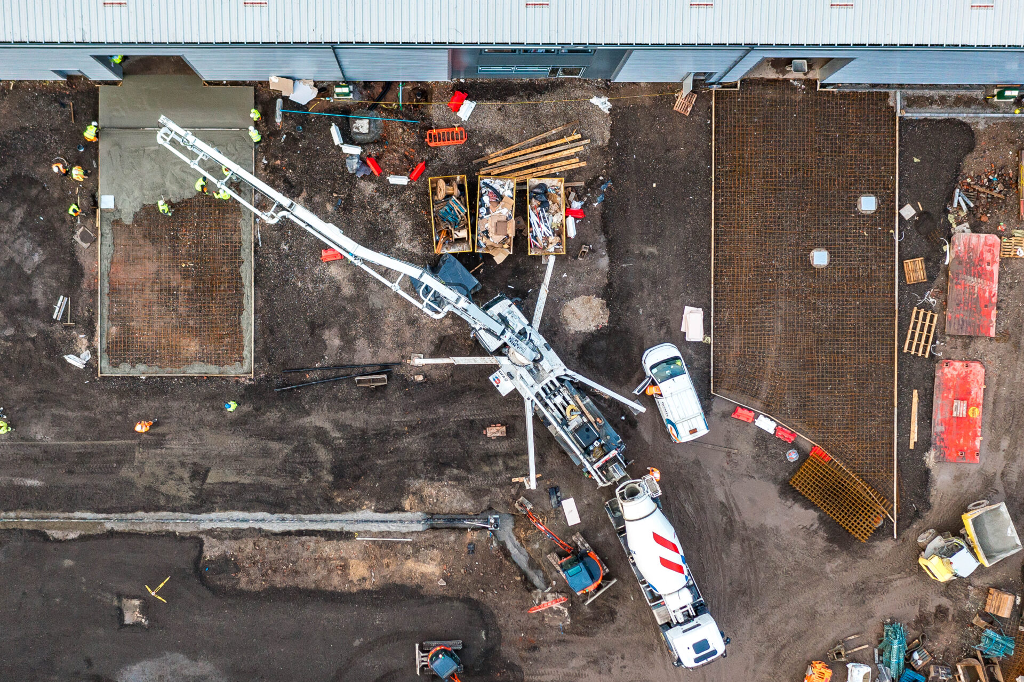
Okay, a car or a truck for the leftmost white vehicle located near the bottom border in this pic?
truck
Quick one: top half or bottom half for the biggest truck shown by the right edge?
bottom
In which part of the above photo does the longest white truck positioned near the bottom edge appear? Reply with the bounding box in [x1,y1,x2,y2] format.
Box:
[603,465,729,675]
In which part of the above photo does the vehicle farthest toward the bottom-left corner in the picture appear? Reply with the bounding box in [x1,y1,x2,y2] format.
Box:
[415,637,460,682]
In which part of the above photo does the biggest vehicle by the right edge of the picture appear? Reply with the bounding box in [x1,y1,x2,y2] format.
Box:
[911,495,1022,582]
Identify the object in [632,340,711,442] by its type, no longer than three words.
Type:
van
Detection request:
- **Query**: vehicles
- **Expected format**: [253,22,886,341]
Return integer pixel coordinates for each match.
[518,492,617,605]
[603,465,729,675]
[156,116,646,489]
[911,495,1022,582]
[632,340,711,442]
[415,637,460,682]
